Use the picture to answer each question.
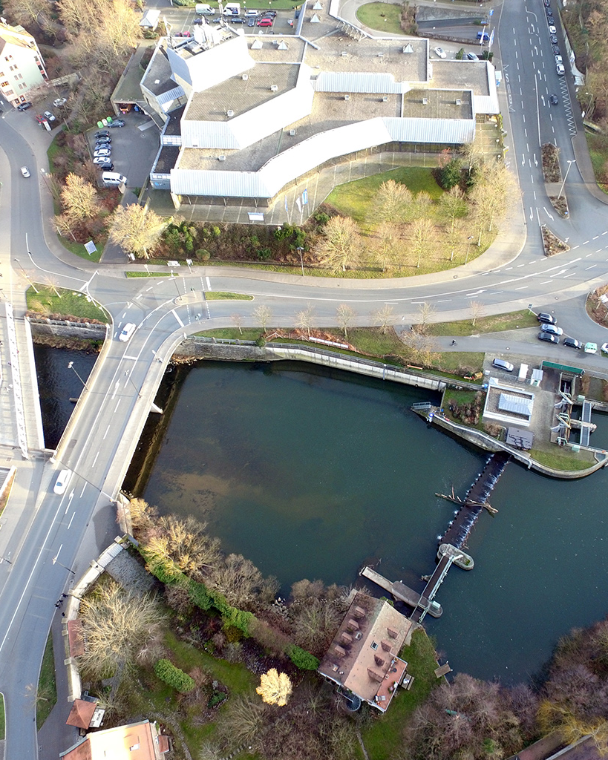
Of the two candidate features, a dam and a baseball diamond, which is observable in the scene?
dam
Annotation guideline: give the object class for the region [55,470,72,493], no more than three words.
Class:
car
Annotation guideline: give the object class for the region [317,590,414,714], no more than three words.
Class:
house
